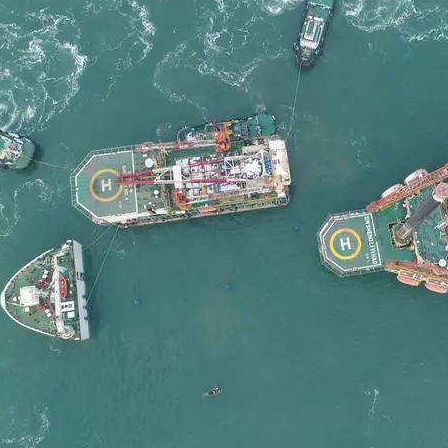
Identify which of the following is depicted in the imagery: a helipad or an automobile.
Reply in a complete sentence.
The one in the frame is a helipad.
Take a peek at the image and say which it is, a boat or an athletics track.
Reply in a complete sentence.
It is a boat that can be seen here.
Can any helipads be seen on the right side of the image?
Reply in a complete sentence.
Yes, a helipad appears on the right side of the image.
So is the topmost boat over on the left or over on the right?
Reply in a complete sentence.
The topmost boat appears in the right half of the scene.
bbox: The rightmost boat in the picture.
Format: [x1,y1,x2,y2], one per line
[424,280,448,294]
